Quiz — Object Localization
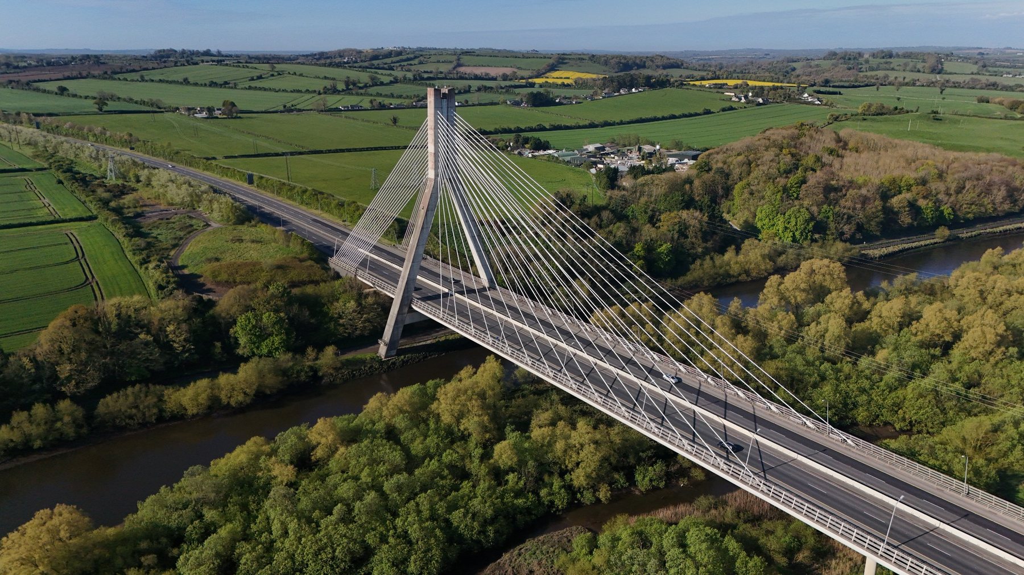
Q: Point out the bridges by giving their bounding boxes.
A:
[333,79,1024,575]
